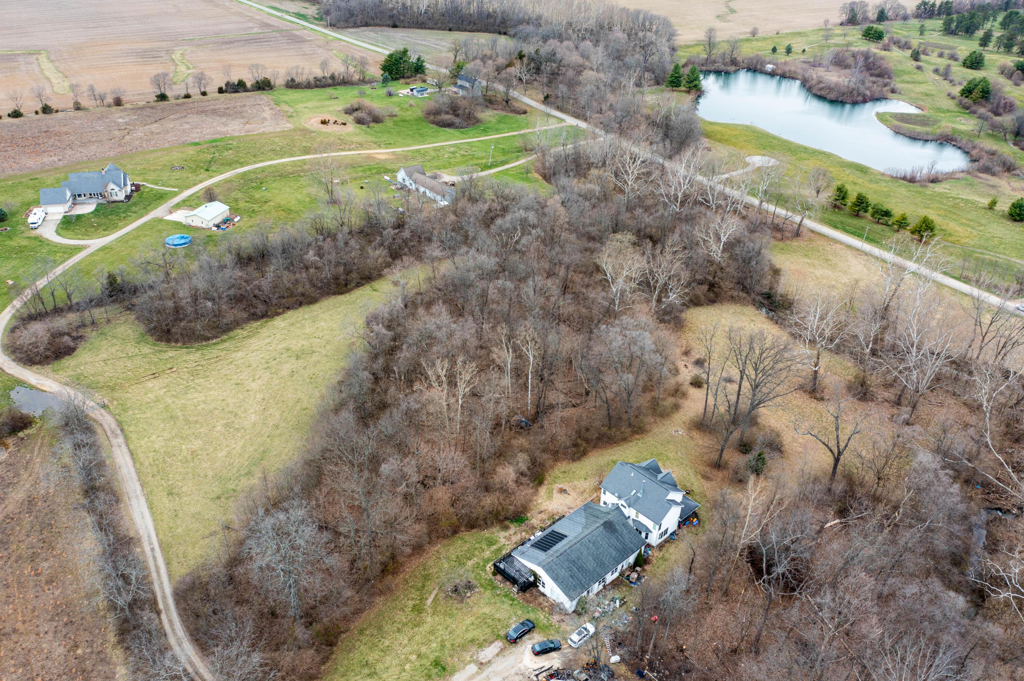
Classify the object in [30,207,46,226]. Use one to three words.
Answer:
camper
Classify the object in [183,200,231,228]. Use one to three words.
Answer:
barn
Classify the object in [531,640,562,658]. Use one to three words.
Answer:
car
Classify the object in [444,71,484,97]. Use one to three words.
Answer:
house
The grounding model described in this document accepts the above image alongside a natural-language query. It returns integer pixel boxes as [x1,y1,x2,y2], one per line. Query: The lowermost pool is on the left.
[162,232,195,249]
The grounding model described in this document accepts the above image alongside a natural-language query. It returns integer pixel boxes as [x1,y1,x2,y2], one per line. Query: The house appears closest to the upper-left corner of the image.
[39,162,132,212]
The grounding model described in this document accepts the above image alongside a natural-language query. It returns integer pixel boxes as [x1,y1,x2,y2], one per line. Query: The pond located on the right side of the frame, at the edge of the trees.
[696,69,969,174]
